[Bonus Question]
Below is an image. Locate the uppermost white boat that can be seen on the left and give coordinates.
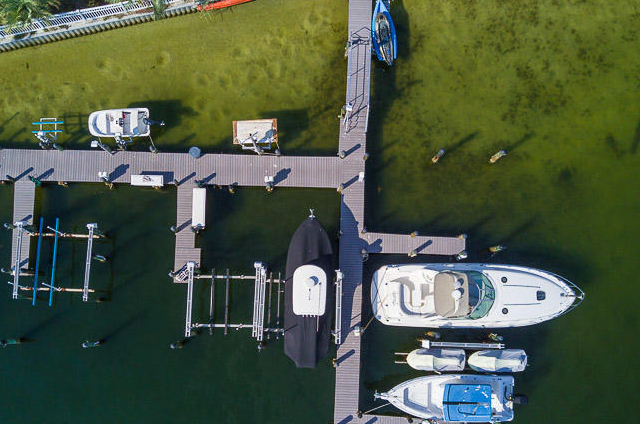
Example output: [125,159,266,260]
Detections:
[88,108,165,139]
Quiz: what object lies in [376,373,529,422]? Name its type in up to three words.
boat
